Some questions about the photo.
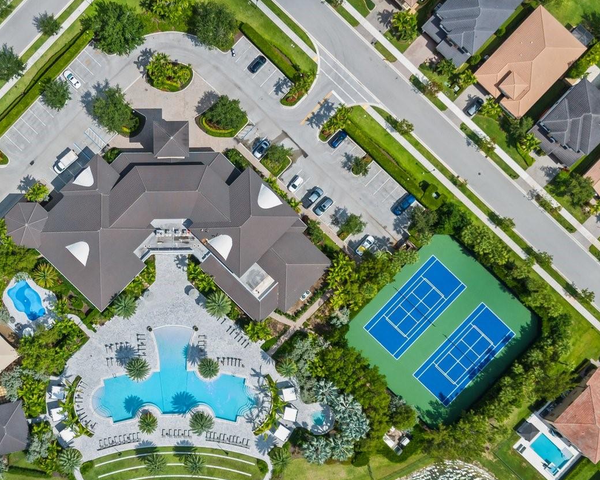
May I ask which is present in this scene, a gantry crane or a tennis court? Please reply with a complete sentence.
Looking from above, you can make out a tennis court.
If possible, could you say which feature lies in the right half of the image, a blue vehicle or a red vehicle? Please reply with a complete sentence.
Visible in the right half of the image is a blue vehicle.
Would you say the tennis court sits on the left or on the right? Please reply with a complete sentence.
It is on the right.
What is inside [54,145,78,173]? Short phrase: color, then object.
white truck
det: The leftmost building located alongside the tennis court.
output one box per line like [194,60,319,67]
[5,121,331,321]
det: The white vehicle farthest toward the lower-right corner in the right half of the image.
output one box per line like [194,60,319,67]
[354,233,376,254]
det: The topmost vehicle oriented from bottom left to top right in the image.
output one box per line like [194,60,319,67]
[248,54,267,74]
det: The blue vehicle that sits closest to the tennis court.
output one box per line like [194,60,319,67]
[393,193,417,216]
